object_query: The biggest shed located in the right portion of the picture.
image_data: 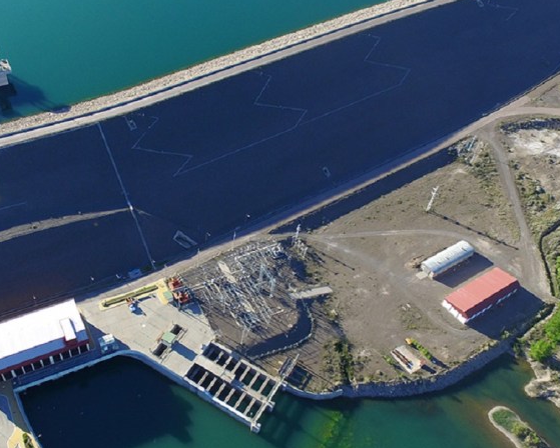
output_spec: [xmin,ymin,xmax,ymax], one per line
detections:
[441,267,520,324]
